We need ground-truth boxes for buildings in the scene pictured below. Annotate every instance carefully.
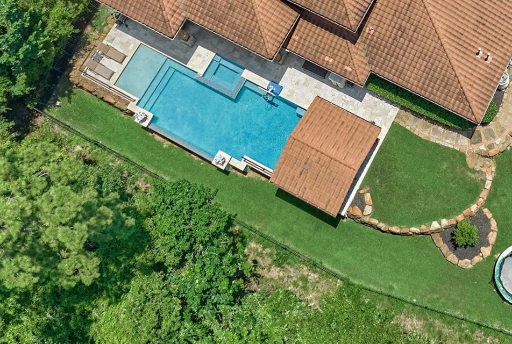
[93,0,512,126]
[267,95,386,221]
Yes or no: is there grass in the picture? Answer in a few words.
Yes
